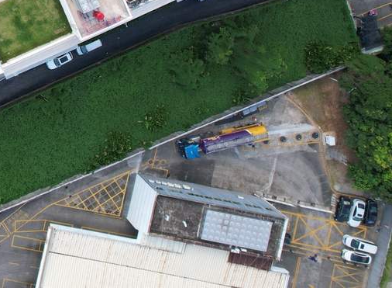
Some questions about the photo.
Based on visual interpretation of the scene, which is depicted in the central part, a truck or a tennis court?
truck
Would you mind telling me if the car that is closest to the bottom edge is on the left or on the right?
right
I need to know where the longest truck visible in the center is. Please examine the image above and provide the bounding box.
[183,118,280,162]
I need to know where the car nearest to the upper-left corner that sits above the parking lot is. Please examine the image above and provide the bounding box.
[45,51,75,69]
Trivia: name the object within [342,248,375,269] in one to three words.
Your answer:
car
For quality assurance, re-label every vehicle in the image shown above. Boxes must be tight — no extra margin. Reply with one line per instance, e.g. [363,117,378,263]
[73,36,107,58]
[348,199,367,229]
[344,234,382,257]
[342,248,375,269]
[283,224,295,254]
[333,194,352,224]
[45,51,75,69]
[364,198,381,228]
[183,118,280,162]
